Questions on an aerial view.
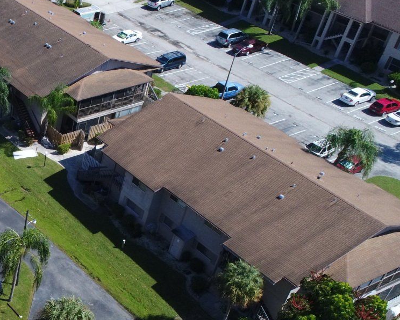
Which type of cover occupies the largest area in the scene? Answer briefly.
buildings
